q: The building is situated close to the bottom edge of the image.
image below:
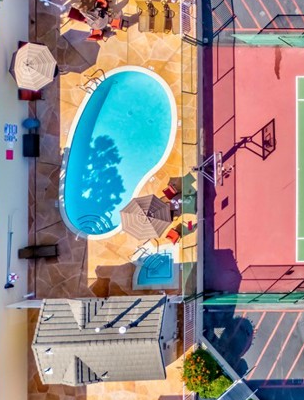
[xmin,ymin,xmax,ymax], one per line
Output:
[30,297,179,386]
